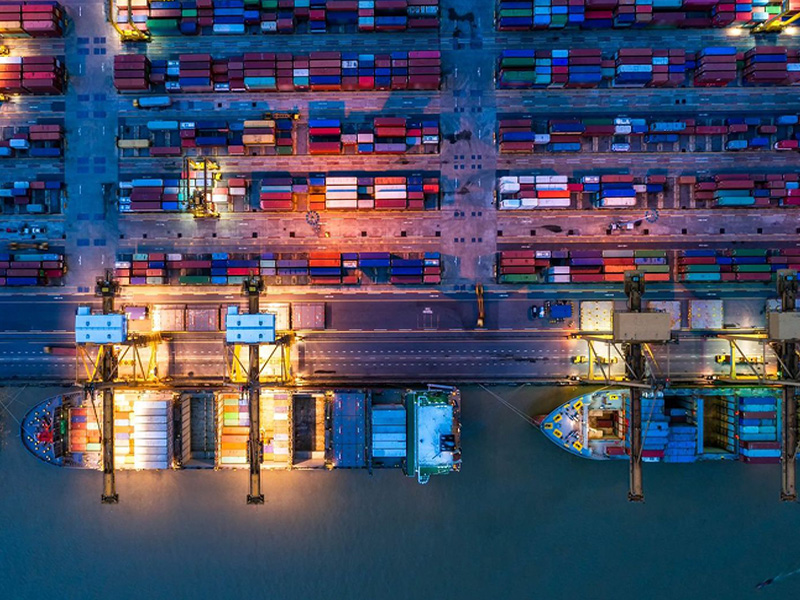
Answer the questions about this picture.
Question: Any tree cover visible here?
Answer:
No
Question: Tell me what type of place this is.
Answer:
port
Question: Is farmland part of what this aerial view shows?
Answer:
No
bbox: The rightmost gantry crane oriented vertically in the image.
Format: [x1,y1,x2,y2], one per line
[715,270,800,500]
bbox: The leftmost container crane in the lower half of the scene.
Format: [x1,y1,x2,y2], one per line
[74,270,173,505]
